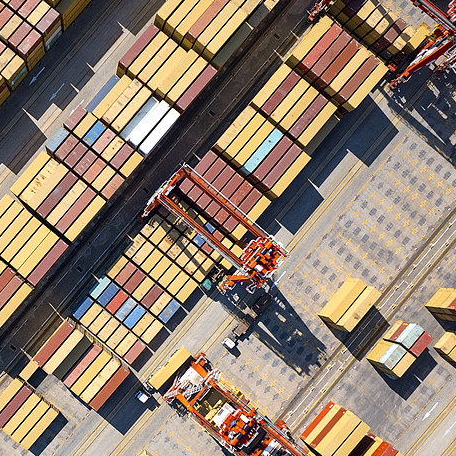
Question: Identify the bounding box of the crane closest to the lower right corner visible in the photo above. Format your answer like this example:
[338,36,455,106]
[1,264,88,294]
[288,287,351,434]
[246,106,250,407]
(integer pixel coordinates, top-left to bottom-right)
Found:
[159,347,315,456]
